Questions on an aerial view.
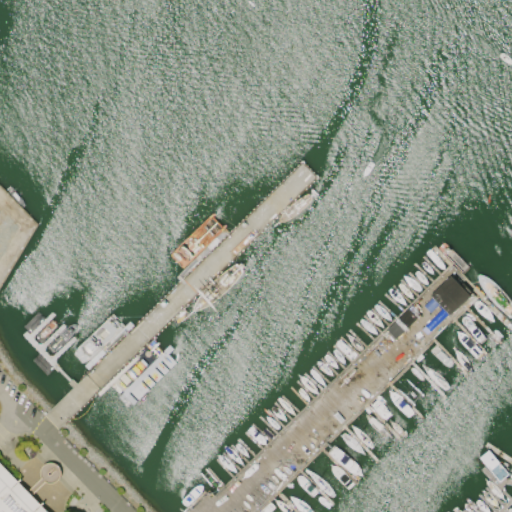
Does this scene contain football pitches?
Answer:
No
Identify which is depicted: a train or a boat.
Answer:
boat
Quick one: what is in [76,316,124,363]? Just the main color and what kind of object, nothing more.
white ship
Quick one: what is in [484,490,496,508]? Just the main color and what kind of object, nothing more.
white boat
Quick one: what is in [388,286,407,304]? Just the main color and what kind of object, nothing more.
white boat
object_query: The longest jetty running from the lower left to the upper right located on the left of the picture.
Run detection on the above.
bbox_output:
[46,163,318,428]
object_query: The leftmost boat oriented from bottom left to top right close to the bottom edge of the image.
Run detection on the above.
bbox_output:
[181,487,204,508]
